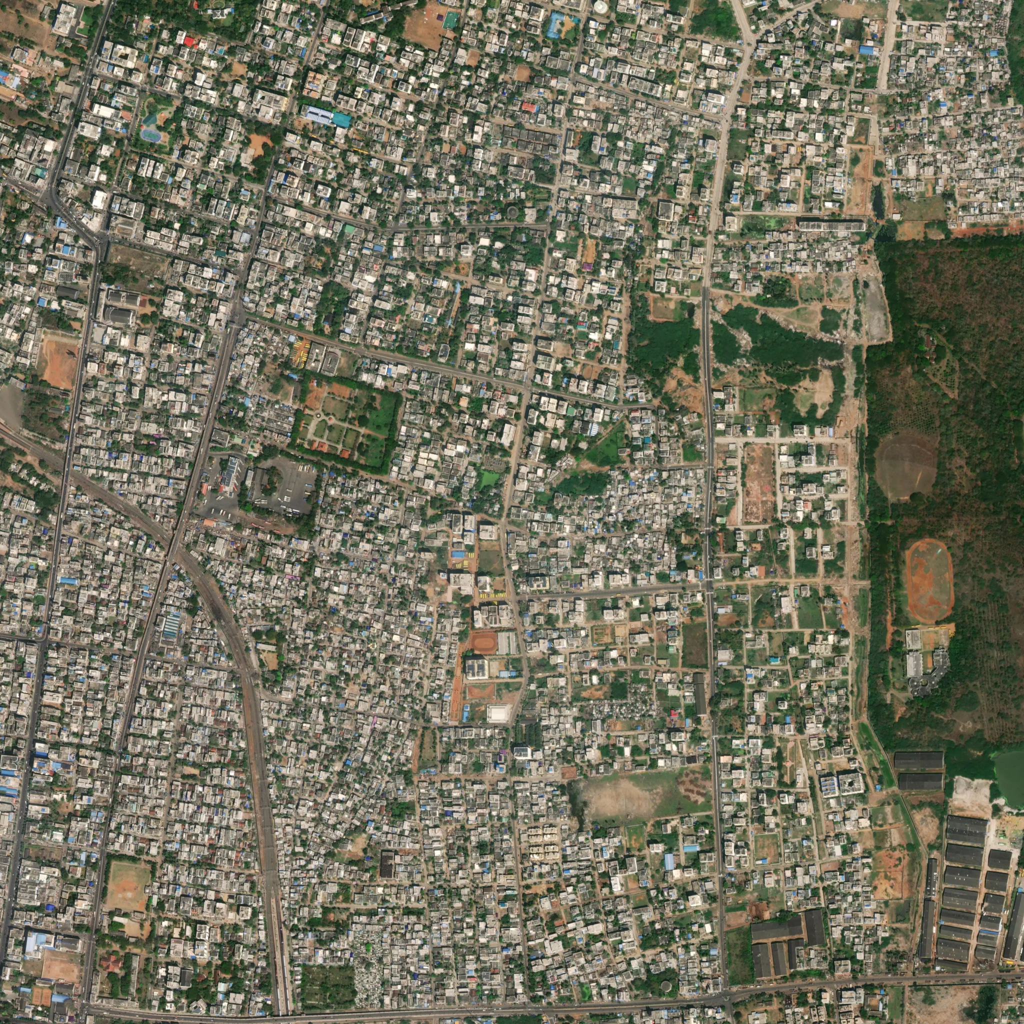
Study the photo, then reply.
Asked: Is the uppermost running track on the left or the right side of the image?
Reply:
right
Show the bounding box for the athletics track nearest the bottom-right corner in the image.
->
[906,539,955,623]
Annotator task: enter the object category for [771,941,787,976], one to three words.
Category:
building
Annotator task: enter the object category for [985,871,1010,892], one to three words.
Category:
building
